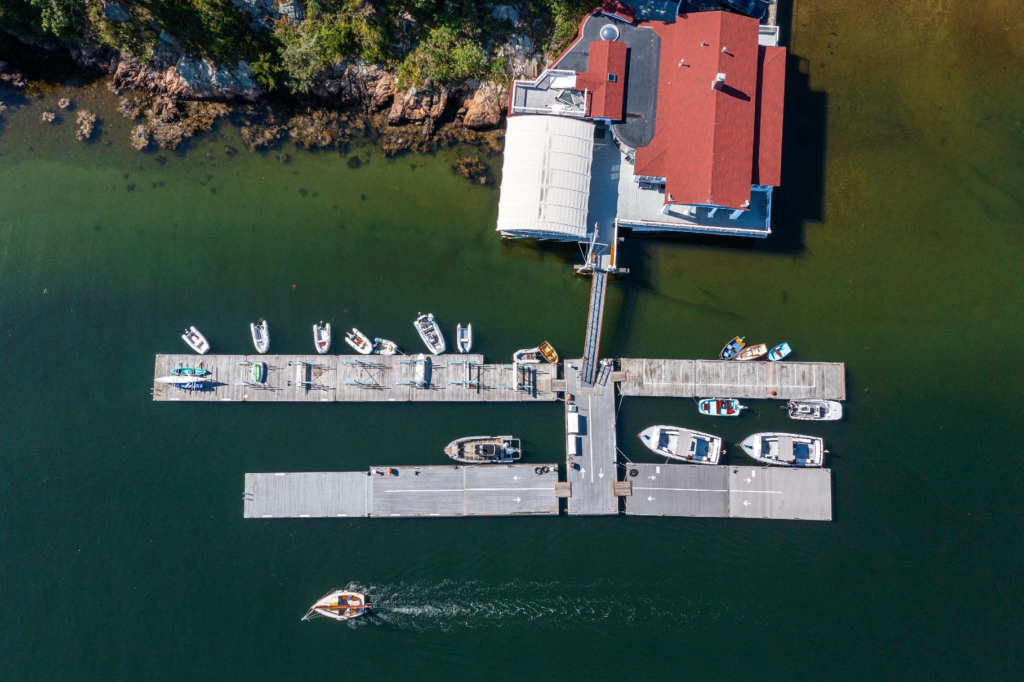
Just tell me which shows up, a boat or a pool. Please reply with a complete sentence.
The one in the frame is a boat.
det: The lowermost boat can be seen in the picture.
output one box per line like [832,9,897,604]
[301,590,371,621]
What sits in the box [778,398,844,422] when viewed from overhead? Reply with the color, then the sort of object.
white boat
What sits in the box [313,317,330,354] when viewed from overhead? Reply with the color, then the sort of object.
white boat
